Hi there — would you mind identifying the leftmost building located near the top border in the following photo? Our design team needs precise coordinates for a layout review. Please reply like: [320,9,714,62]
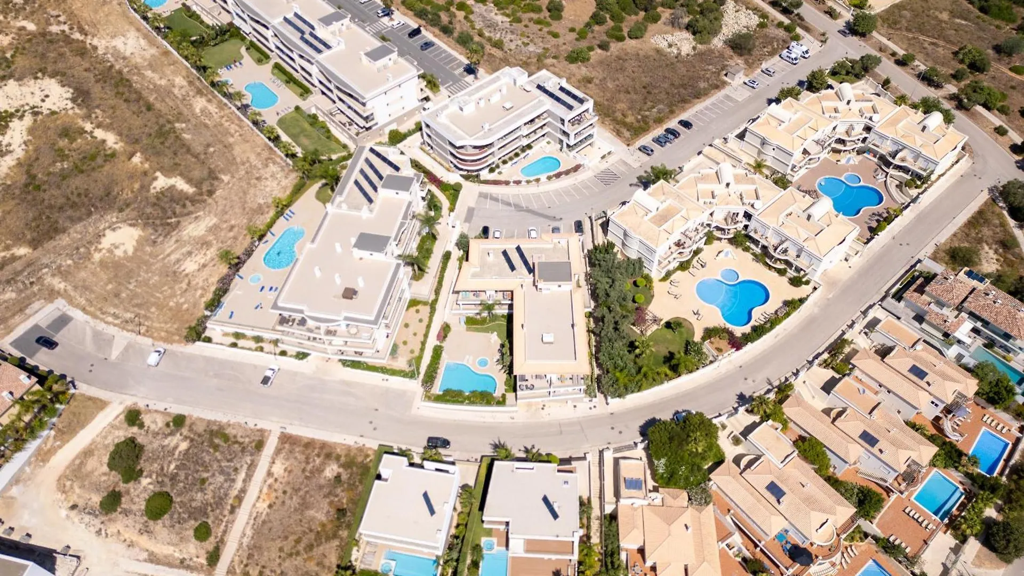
[208,0,427,142]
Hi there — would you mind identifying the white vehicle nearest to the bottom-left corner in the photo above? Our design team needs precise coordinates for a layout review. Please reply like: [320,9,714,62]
[143,345,167,367]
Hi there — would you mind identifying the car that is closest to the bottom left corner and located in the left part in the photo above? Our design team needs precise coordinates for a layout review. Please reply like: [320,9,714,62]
[34,335,60,350]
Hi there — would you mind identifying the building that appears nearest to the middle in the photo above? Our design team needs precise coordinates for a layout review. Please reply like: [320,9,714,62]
[451,234,591,406]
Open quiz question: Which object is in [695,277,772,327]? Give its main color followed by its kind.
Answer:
blue swimming pool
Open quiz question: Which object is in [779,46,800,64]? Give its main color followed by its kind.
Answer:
white vehicle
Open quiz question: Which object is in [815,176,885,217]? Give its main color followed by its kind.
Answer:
blue swimming pool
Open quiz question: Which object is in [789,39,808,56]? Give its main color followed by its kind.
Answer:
white vehicle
